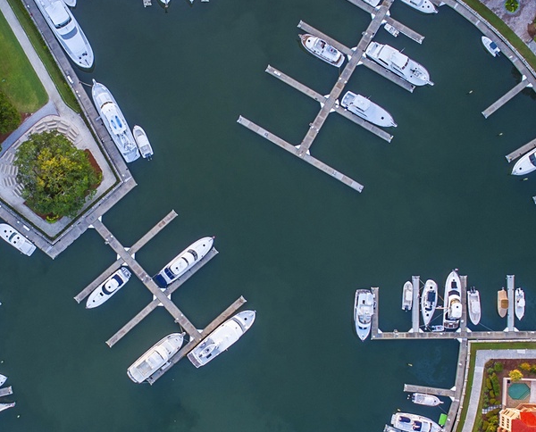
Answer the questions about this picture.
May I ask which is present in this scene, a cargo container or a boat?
boat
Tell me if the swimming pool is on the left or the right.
right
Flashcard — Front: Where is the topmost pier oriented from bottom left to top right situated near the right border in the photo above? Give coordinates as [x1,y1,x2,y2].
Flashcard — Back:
[481,75,533,118]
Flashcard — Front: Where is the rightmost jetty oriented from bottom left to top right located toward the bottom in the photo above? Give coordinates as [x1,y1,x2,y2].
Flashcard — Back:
[195,296,247,339]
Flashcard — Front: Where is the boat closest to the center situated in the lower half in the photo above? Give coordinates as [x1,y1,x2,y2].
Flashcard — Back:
[156,235,216,287]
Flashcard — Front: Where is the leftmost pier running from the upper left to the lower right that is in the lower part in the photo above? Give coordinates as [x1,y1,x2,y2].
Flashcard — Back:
[91,218,203,344]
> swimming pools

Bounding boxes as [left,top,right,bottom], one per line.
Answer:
[499,378,536,409]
